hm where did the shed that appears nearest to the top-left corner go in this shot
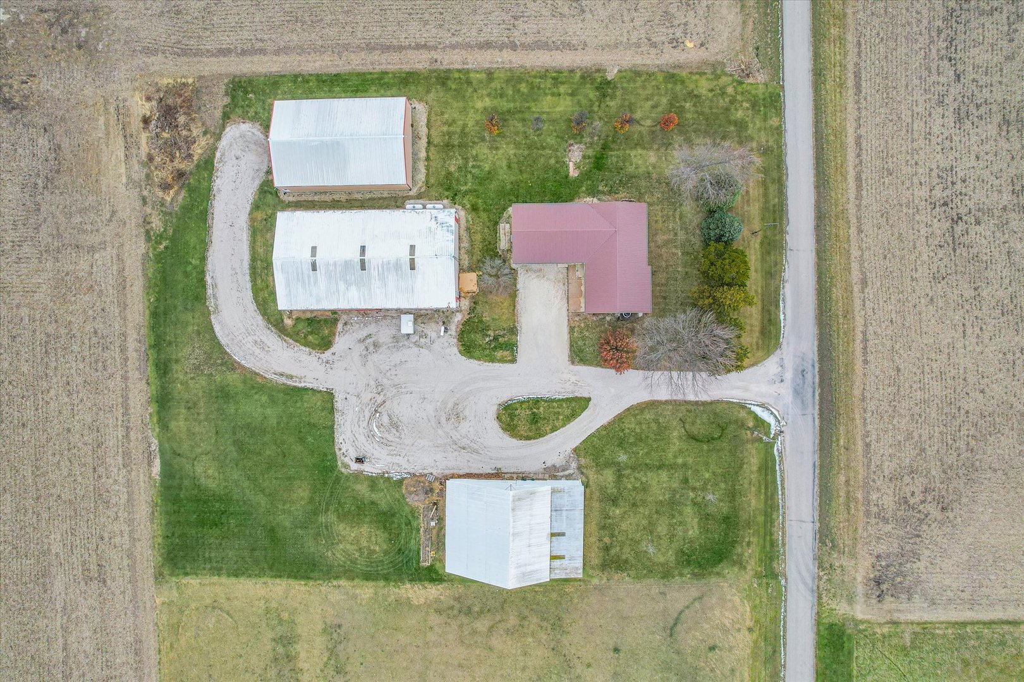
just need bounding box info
[268,97,412,194]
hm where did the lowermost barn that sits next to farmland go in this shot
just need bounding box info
[446,478,584,590]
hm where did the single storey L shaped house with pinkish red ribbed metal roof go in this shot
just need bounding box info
[511,200,652,313]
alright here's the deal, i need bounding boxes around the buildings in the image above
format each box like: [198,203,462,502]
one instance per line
[273,209,460,311]
[268,97,412,194]
[446,478,584,590]
[511,200,652,313]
